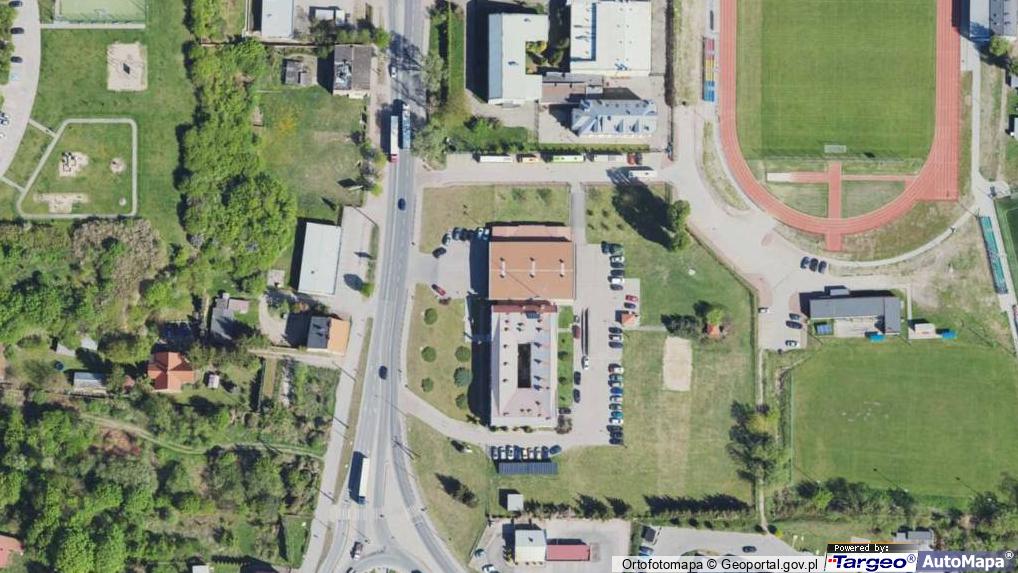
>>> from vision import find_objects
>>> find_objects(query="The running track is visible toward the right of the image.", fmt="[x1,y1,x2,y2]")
[720,0,960,250]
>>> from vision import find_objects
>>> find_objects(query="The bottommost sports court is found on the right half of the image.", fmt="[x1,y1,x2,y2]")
[663,336,691,390]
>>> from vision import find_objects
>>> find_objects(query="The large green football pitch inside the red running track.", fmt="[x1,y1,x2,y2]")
[762,0,934,157]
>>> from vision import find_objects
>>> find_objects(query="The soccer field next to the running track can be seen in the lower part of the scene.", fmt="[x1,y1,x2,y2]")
[794,338,1018,495]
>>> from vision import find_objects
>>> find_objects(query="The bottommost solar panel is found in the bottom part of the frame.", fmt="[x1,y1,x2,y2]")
[498,463,558,476]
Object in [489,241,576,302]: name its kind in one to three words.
building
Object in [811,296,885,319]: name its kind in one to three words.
building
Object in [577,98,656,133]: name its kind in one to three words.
house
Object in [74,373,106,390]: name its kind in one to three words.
barn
